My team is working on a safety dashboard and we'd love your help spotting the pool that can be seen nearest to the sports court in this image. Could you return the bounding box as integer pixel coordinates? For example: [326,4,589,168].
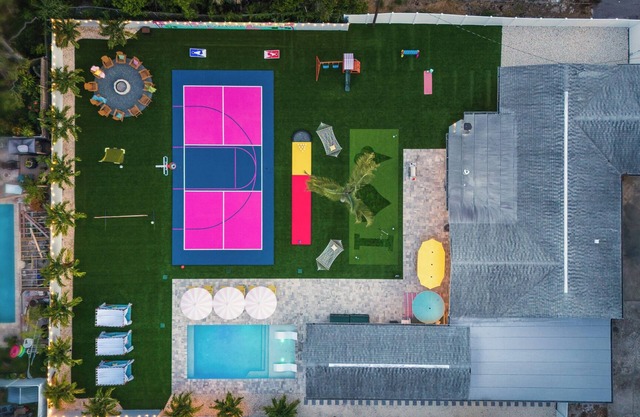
[185,323,298,382]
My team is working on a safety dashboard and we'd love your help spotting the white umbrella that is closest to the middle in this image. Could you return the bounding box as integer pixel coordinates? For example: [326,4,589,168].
[245,286,277,319]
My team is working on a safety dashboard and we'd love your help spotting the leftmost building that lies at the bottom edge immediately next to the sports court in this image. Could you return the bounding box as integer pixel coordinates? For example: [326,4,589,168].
[306,321,472,403]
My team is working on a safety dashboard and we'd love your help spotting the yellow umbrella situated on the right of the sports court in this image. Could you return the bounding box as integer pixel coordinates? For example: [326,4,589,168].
[417,238,445,289]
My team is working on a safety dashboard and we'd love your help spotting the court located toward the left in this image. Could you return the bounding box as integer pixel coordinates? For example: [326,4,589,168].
[172,70,274,265]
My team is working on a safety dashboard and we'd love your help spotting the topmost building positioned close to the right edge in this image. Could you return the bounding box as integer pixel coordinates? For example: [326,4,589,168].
[445,64,640,318]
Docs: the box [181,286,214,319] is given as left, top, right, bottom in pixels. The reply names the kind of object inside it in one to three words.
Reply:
umbrella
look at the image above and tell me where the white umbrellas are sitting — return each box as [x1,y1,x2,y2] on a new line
[245,286,277,319]
[213,286,245,319]
[181,286,214,319]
